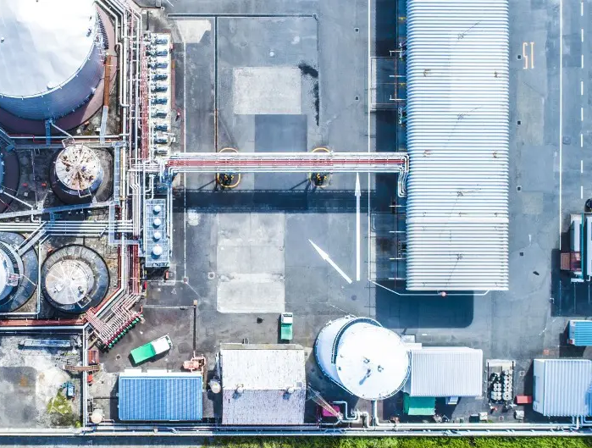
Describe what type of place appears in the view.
industrial area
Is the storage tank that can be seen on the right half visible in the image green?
No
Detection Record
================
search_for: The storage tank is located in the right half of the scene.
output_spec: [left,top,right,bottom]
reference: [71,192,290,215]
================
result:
[310,313,413,402]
